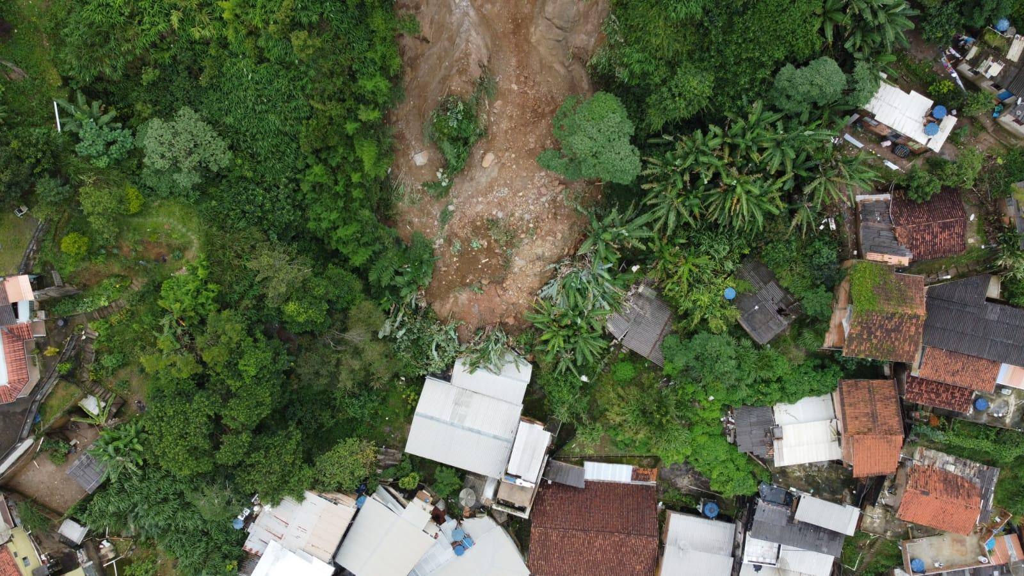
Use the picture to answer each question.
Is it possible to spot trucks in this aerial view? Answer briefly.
No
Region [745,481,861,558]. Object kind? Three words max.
house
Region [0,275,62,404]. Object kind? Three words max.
house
